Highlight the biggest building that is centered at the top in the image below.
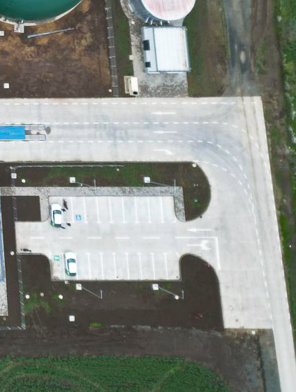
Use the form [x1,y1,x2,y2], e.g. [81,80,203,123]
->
[144,26,190,72]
